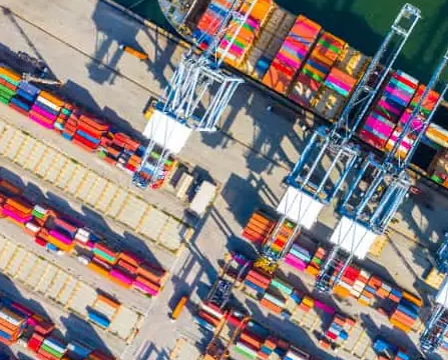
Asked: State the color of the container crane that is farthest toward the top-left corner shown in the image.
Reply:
white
